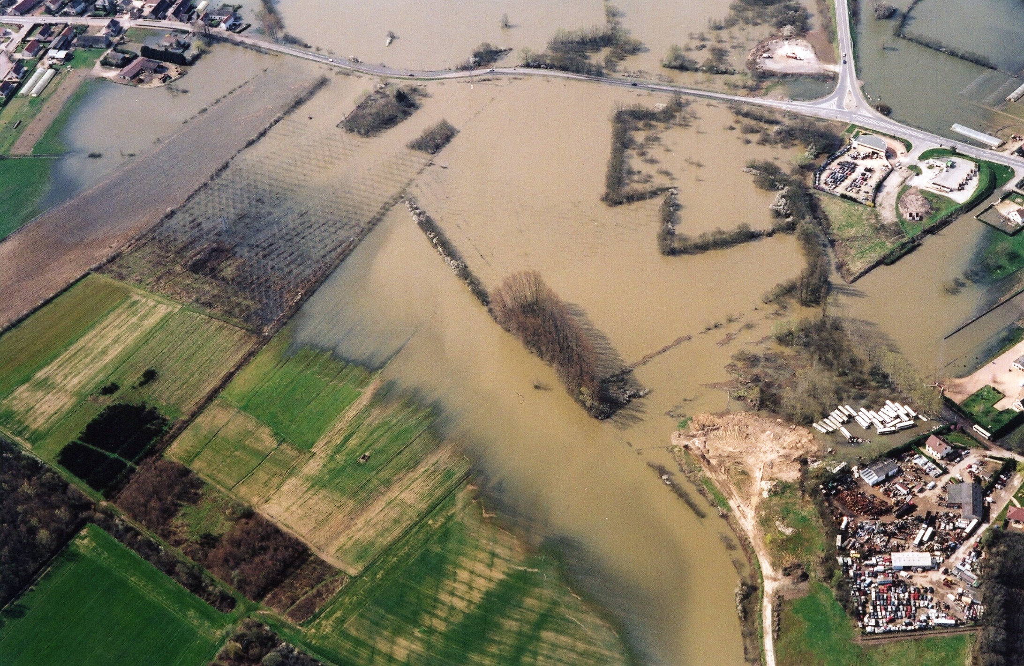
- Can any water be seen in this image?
Yes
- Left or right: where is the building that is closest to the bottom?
right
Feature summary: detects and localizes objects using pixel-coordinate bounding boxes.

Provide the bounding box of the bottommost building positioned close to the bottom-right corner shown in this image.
[887,549,935,573]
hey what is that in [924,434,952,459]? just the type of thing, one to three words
house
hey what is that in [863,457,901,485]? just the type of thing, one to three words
building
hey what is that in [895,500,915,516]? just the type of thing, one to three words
vehicle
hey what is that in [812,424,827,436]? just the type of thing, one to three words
vehicle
